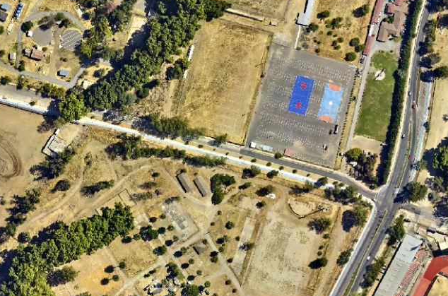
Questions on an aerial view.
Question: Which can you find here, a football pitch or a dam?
football pitch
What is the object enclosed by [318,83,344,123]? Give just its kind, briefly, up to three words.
sports court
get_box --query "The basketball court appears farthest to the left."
[288,75,314,113]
